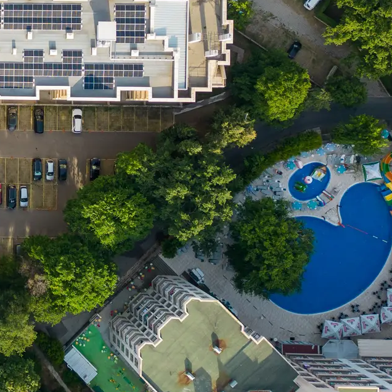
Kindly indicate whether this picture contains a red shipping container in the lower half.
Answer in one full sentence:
No, no red shipping container is visible in the lower half.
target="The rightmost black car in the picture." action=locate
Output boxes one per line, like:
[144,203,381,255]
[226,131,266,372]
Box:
[286,40,301,61]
